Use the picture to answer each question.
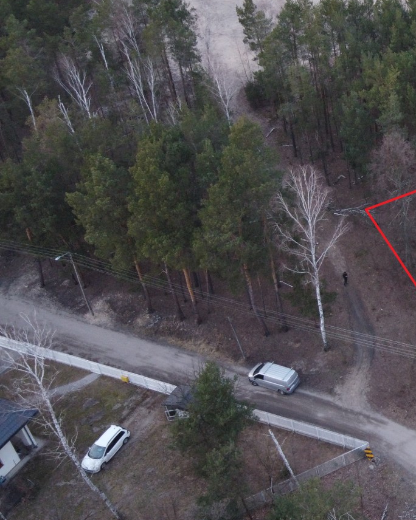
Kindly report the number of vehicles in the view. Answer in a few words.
2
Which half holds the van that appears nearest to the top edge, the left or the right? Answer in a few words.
right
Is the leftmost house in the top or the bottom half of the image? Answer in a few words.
bottom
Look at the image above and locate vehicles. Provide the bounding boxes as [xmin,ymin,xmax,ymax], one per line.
[81,423,129,469]
[244,367,299,401]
